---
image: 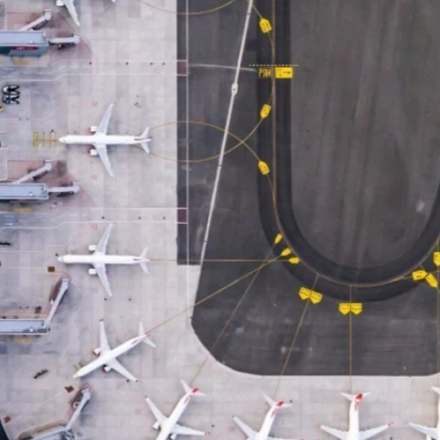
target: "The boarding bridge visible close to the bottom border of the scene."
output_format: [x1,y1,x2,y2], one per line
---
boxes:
[64,388,89,427]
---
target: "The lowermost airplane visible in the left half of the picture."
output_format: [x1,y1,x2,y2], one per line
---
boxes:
[144,385,205,440]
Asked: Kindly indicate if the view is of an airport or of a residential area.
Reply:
airport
